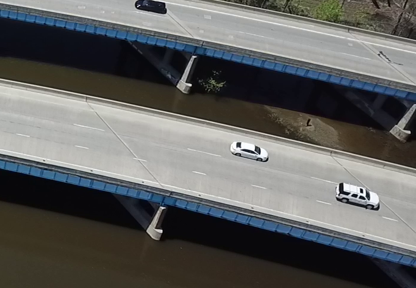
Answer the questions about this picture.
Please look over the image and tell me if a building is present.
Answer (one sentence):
No, no building can be seen from above.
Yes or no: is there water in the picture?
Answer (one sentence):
Yes, there is water in the image.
